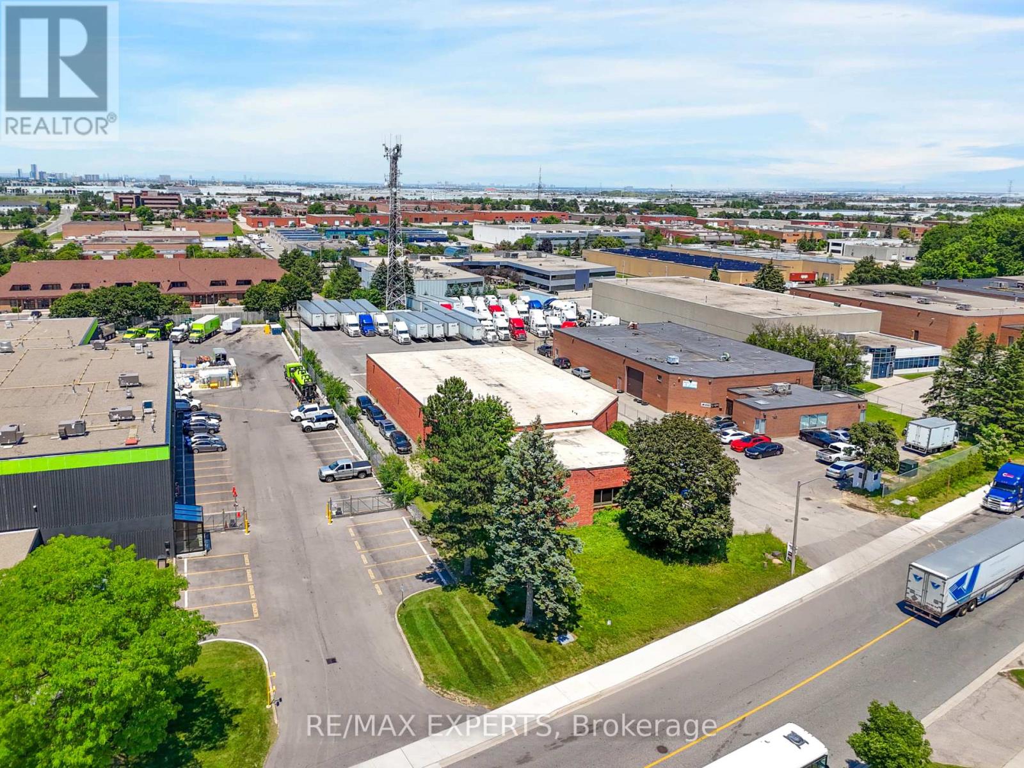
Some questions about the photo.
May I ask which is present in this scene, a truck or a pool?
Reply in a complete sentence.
Of the two, only a truck appears.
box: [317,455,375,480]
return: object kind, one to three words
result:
truck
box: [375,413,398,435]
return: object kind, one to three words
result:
car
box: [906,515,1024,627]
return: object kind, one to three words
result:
trailer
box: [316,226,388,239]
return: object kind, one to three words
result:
building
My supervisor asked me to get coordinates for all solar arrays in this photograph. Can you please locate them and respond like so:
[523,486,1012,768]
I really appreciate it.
[600,248,755,268]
